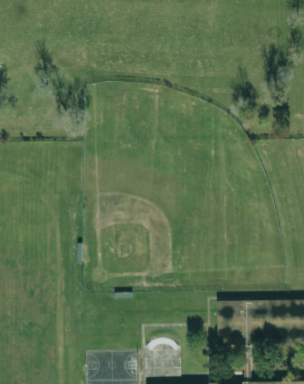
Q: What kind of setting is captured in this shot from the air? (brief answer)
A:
sports ground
